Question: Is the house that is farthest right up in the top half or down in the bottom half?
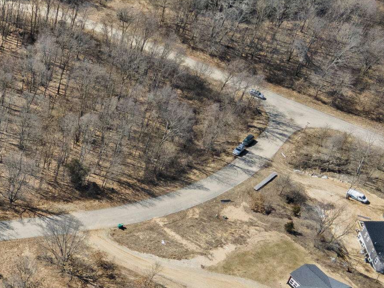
bottom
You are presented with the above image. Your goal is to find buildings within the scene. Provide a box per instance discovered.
[286,265,352,288]
[351,214,384,285]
